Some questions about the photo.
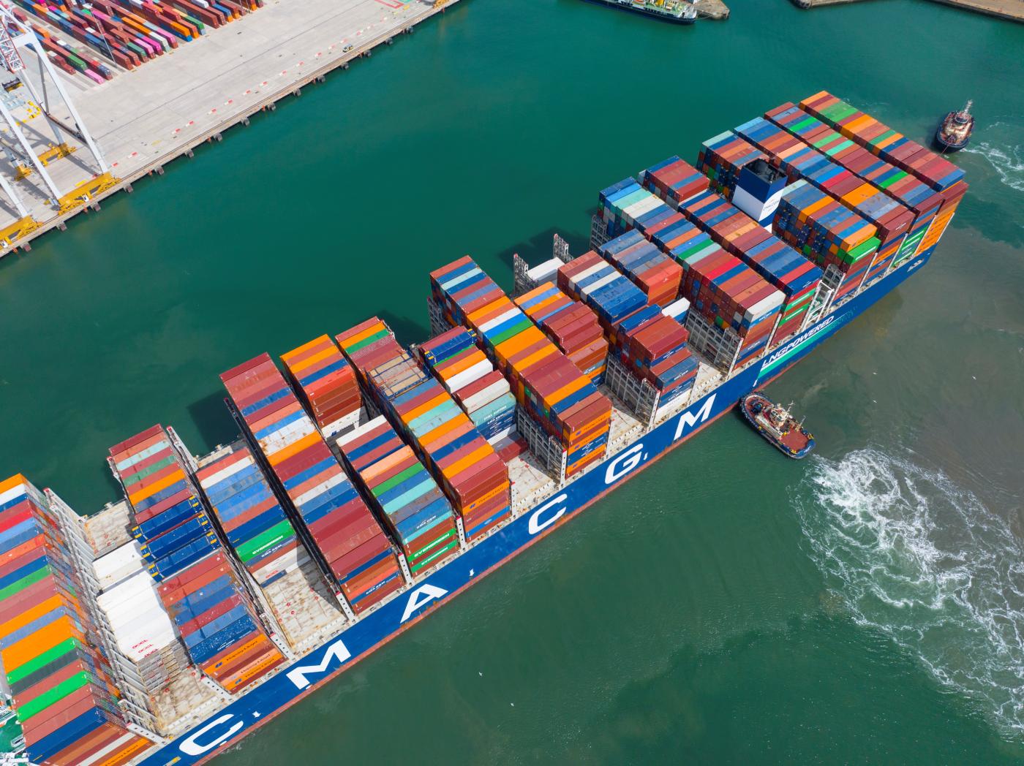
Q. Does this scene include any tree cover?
No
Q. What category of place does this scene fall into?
port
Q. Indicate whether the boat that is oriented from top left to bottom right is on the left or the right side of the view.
right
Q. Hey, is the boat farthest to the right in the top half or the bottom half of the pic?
top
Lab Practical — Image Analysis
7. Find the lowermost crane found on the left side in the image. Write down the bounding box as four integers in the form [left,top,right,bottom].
[0,169,45,246]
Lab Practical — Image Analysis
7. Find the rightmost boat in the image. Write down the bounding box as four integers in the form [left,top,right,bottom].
[939,102,984,150]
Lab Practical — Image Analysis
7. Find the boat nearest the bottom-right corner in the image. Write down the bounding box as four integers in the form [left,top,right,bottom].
[741,393,821,460]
